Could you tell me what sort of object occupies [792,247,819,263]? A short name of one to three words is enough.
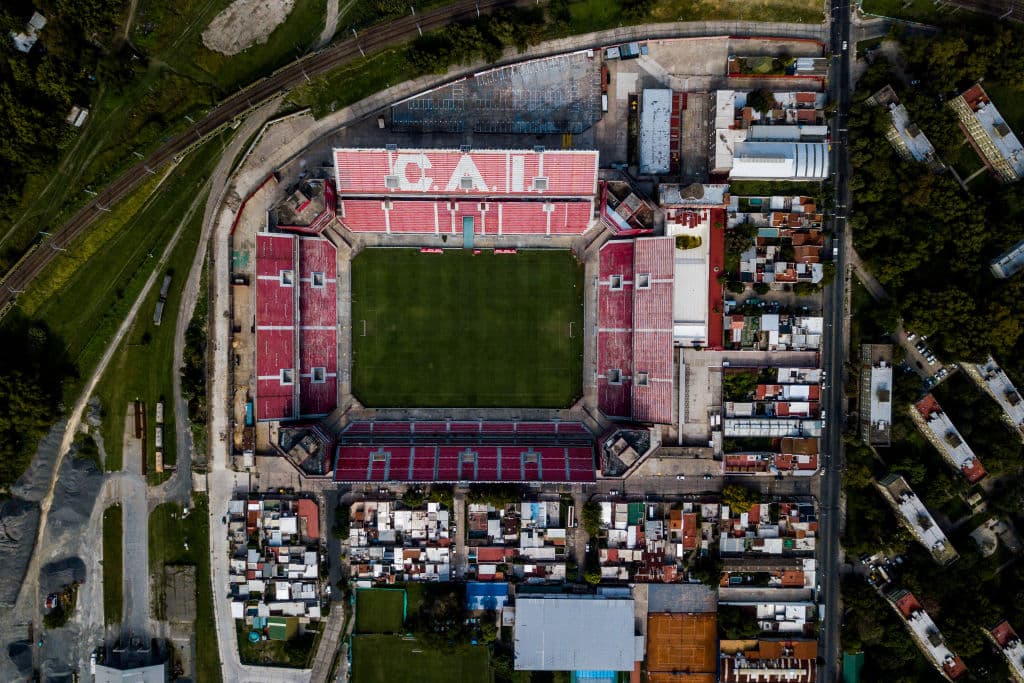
house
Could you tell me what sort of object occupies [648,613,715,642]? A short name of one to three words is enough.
tennis court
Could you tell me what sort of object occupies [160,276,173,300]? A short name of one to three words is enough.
rail car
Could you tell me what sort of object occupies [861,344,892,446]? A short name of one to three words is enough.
building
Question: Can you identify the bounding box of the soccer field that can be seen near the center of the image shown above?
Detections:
[352,247,583,408]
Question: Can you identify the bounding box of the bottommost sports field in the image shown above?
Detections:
[352,635,489,683]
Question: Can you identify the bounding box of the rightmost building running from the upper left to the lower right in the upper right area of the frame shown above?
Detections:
[954,83,1024,180]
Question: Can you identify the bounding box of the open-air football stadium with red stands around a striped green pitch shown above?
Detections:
[255,144,674,486]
